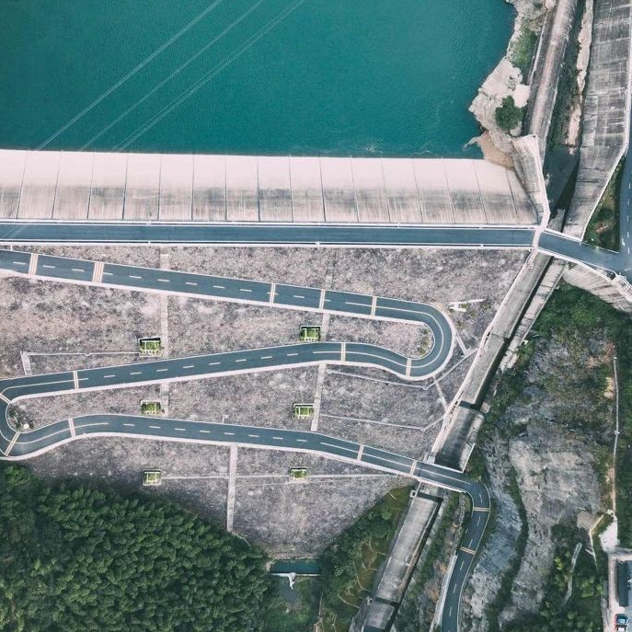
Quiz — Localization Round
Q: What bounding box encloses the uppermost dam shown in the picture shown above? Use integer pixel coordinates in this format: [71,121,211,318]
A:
[0,149,539,557]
